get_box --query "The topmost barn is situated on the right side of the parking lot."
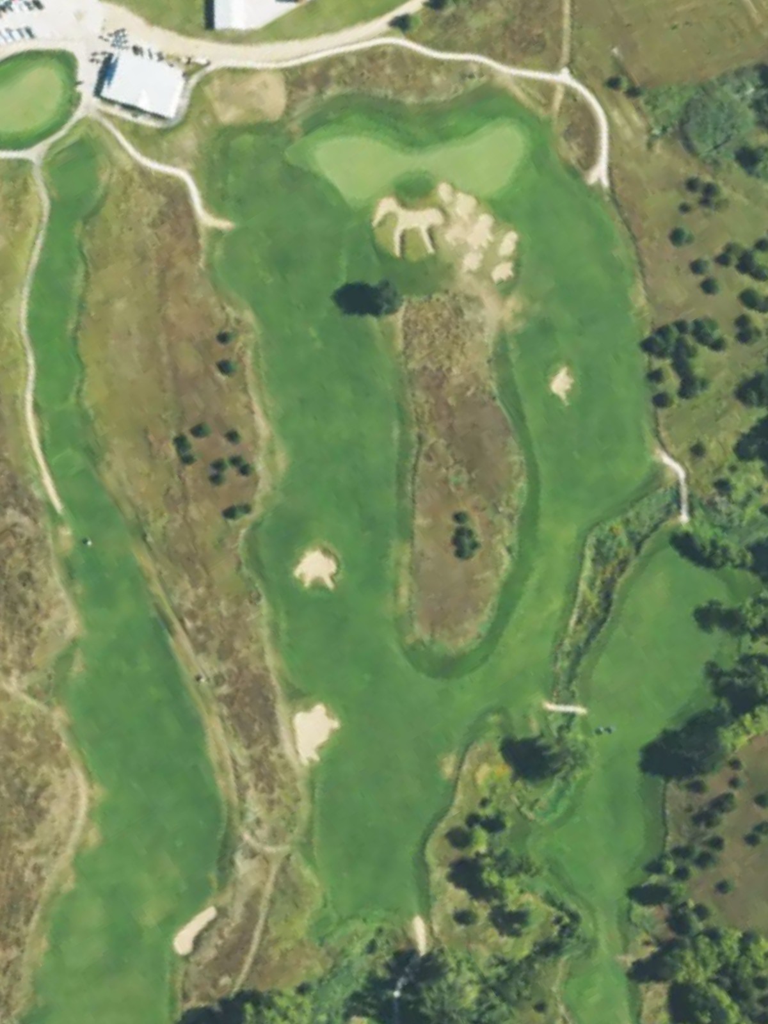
[213,0,246,28]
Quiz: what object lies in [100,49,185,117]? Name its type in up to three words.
building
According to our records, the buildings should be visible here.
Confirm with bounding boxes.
[100,49,185,117]
[213,0,246,28]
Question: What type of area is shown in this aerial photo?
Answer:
golf course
